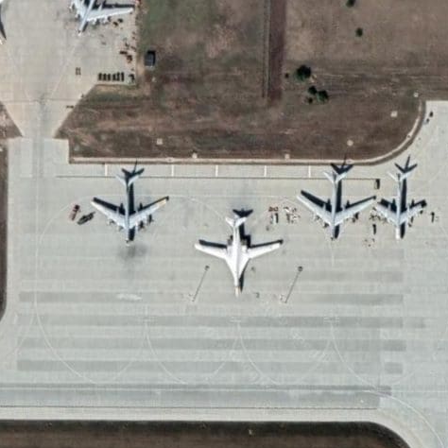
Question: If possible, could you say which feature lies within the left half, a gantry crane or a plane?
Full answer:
Looking within the left half, you will find a plane.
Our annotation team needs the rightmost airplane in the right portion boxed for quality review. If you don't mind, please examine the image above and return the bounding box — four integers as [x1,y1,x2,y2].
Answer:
[376,165,420,238]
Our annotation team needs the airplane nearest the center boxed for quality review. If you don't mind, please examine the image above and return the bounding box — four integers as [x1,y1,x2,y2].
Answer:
[196,213,278,295]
